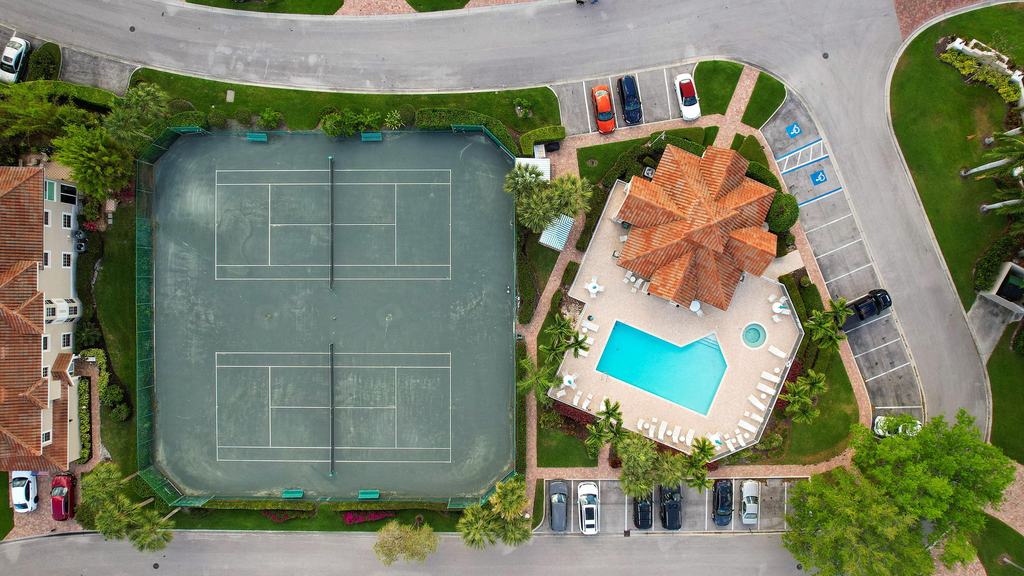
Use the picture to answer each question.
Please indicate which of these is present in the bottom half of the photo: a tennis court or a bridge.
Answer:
tennis court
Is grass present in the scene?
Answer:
Yes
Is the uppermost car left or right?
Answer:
left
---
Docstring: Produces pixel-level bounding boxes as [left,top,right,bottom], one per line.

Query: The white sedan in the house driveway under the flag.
[10,472,37,515]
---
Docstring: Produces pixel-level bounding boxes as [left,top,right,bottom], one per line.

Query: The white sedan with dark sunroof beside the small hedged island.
[0,32,30,79]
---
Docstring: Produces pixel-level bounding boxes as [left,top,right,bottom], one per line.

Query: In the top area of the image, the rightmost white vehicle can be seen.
[674,72,702,122]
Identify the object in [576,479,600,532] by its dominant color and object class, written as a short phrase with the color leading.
white car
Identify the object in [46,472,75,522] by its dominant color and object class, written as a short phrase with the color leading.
red car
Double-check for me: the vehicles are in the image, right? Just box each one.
[547,479,570,530]
[657,480,682,531]
[576,479,600,532]
[833,293,895,334]
[10,472,37,515]
[591,85,617,134]
[872,418,922,441]
[631,490,654,530]
[674,72,702,122]
[711,477,735,525]
[738,477,761,524]
[46,472,75,522]
[0,32,30,79]
[616,74,644,126]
